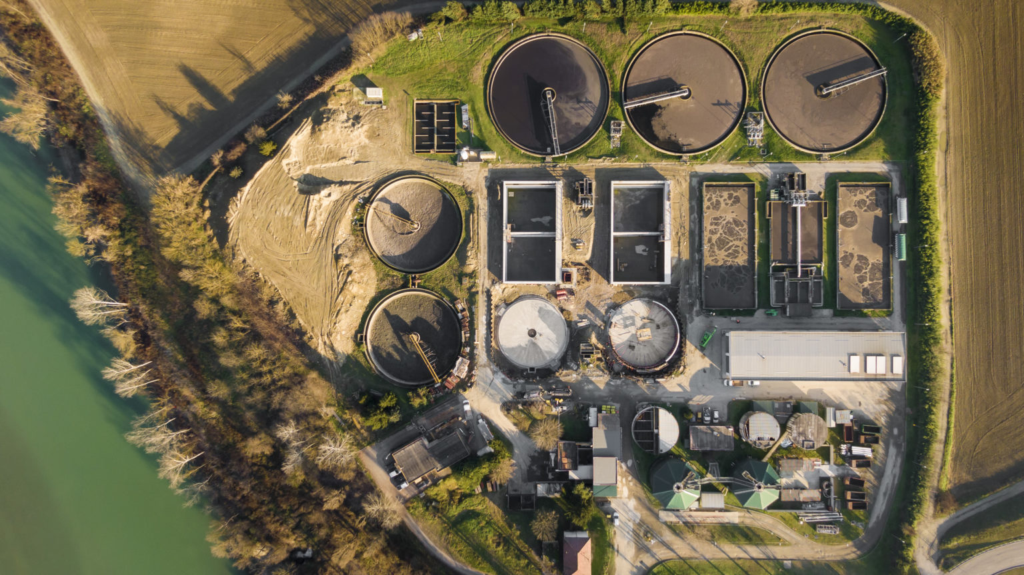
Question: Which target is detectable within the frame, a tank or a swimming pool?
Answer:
tank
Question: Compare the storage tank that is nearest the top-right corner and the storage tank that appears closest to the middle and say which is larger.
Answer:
the storage tank that is nearest the top-right corner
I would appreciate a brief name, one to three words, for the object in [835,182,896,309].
storage tank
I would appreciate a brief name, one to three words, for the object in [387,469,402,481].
vehicle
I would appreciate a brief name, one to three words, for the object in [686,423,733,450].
building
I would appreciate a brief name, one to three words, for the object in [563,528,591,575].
house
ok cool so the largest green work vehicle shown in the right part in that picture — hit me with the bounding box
[699,326,719,349]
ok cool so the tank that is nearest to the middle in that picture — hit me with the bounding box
[496,296,569,373]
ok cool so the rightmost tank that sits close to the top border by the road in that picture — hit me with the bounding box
[761,27,889,159]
